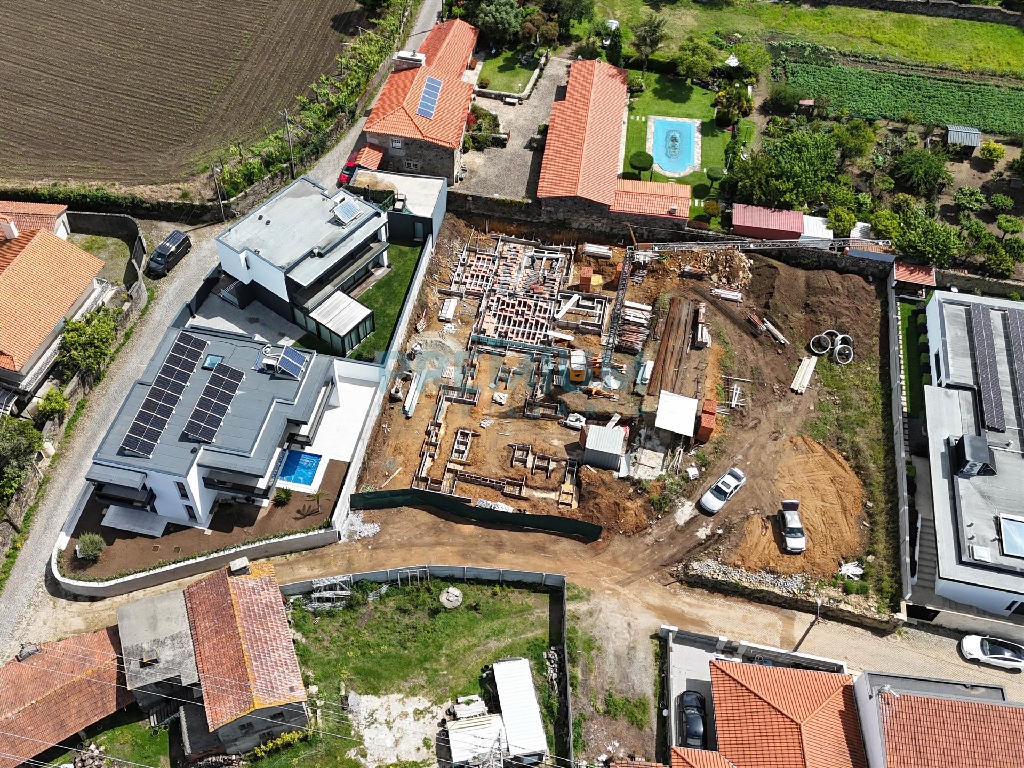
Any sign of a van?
Yes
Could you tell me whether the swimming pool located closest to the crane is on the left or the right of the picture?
right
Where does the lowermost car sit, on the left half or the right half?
right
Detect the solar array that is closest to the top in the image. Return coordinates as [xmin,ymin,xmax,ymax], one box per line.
[417,75,443,117]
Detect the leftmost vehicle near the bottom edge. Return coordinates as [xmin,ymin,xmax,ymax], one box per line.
[676,685,712,754]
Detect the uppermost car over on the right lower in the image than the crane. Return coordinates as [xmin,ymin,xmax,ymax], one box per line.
[698,464,749,517]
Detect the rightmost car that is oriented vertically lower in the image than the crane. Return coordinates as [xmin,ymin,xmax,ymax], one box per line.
[779,496,810,555]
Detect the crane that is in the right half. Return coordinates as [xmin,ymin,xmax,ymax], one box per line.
[591,224,892,372]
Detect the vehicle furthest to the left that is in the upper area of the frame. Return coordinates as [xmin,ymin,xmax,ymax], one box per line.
[149,227,194,278]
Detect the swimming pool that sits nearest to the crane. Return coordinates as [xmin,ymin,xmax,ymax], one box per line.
[647,115,701,178]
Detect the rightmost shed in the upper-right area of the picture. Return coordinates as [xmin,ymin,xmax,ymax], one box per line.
[942,128,980,161]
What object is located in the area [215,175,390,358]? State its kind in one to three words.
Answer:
house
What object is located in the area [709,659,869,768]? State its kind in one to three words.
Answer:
house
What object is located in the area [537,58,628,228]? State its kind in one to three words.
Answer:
barn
